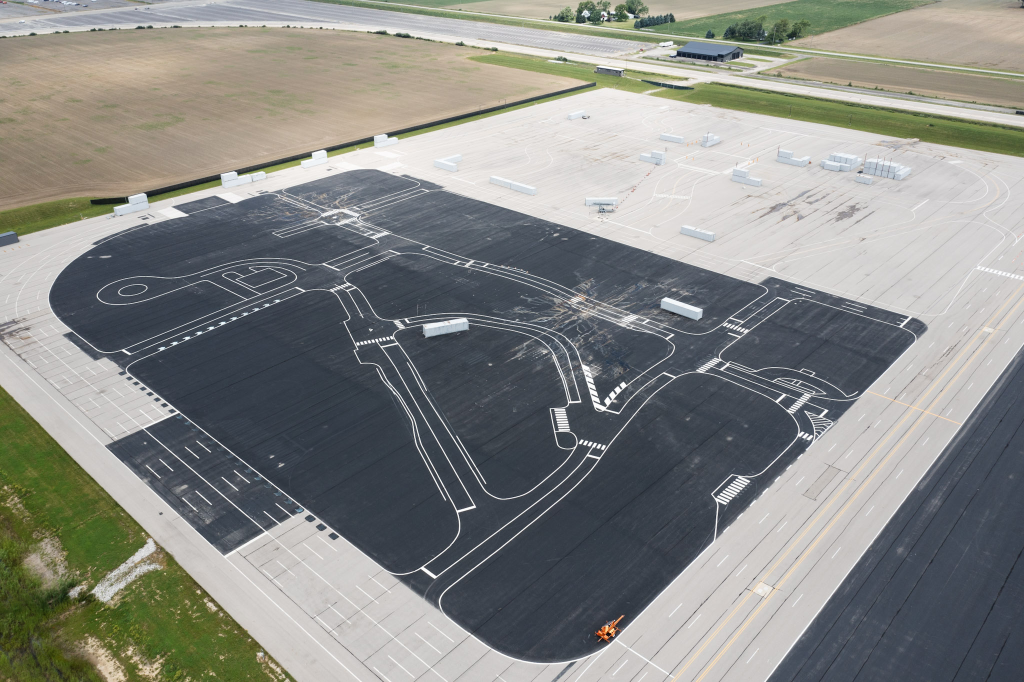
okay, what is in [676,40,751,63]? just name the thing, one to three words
barn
